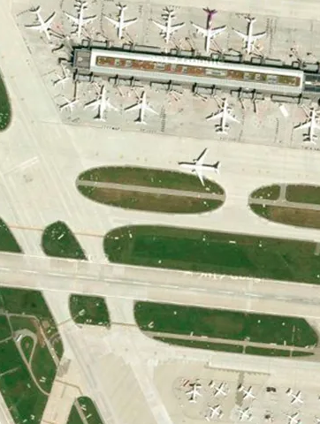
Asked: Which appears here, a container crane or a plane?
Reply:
plane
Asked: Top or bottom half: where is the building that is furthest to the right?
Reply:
top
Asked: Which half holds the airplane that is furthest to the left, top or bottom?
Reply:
top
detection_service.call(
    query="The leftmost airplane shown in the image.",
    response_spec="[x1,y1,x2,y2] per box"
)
[24,6,57,40]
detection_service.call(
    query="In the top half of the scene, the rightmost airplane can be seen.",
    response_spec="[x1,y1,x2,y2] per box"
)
[295,108,320,144]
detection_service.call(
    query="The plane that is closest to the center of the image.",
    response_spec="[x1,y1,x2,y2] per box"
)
[180,149,221,189]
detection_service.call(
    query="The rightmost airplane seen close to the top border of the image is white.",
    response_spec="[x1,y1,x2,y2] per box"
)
[233,18,269,53]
